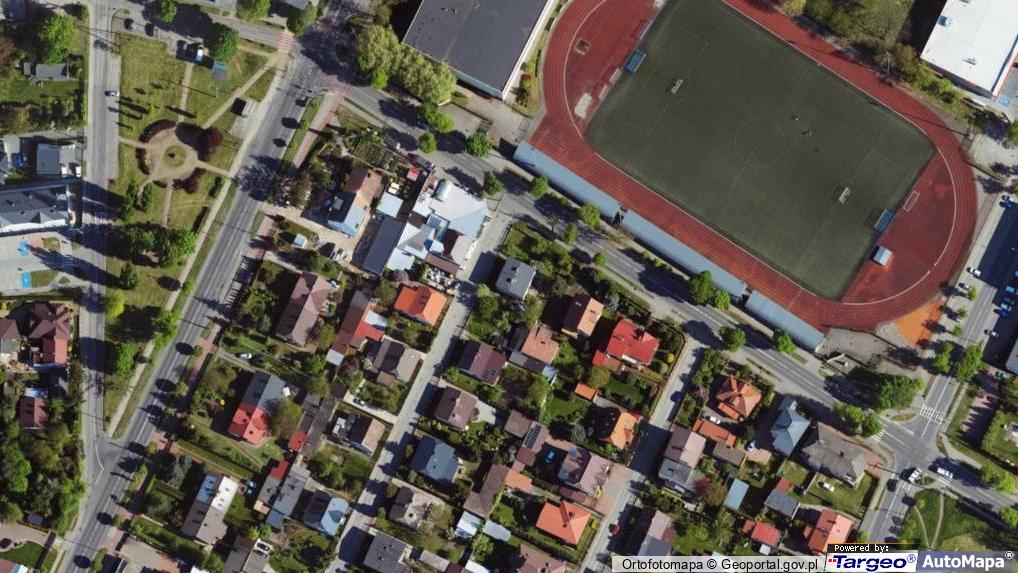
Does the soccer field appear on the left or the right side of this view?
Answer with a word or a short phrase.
right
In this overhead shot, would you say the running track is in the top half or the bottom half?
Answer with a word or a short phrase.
top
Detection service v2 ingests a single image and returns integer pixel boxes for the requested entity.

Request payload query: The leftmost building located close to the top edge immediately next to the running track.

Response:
[404,0,556,99]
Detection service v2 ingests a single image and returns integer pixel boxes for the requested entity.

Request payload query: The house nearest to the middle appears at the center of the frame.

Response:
[496,259,537,302]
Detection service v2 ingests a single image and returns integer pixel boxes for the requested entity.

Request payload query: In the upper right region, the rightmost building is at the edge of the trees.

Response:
[922,0,1018,101]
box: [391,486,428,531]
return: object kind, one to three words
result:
house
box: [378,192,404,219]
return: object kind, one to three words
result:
building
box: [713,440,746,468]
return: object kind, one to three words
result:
shed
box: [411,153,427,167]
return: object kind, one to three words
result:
vehicle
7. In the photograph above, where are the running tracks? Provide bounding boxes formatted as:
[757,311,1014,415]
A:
[518,0,976,332]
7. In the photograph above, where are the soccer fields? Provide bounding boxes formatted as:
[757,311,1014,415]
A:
[584,0,935,300]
